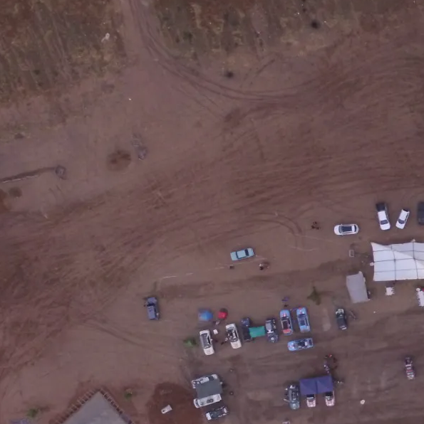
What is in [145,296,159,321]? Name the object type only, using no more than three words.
car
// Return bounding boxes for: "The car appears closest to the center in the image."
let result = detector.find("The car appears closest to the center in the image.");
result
[230,247,256,262]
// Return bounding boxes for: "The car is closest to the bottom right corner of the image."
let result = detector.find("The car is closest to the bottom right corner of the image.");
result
[403,356,417,379]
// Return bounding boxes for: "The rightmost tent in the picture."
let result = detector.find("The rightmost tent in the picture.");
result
[369,238,424,284]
